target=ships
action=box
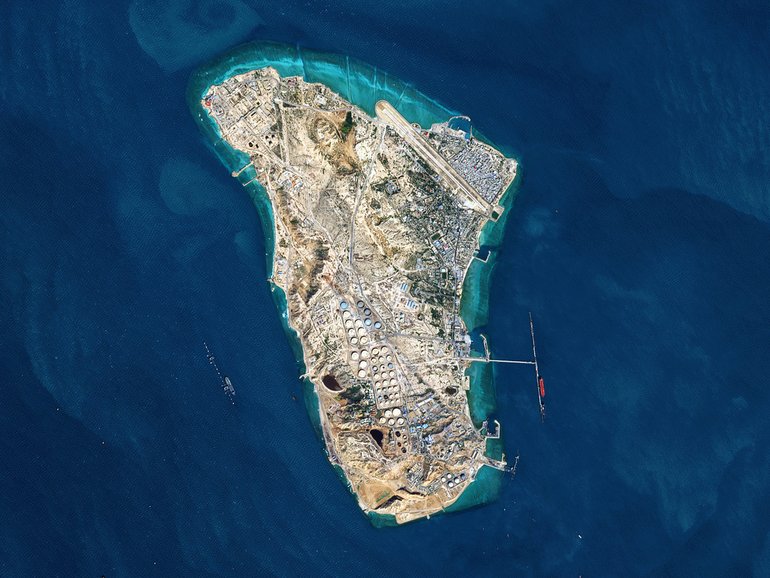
[226,377,235,395]
[540,378,545,397]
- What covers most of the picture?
water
